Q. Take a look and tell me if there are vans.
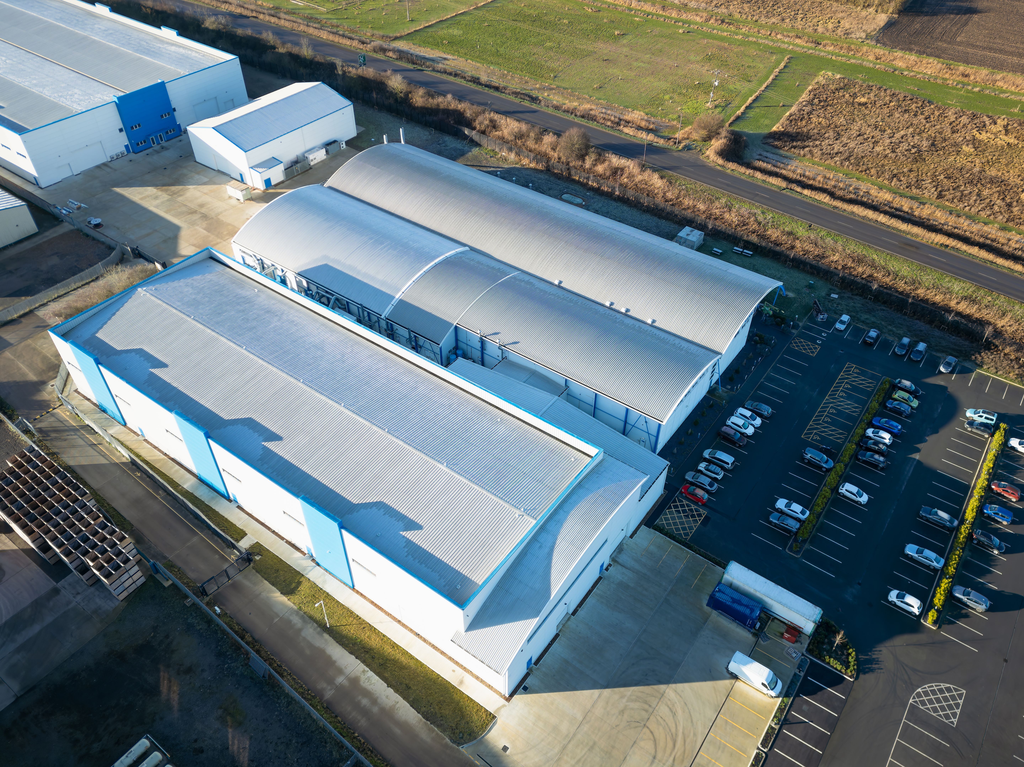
Yes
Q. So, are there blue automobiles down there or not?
Yes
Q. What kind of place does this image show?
industrial area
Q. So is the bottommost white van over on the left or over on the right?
right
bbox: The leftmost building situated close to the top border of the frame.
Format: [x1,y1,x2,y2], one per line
[0,0,249,188]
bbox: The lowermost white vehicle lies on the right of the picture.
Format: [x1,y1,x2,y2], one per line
[723,648,784,700]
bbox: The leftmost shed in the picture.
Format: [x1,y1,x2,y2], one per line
[0,188,38,248]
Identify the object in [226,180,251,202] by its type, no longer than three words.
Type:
building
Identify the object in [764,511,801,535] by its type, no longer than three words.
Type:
car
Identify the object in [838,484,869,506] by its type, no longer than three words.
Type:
car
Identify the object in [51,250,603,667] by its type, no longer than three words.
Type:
warehouse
